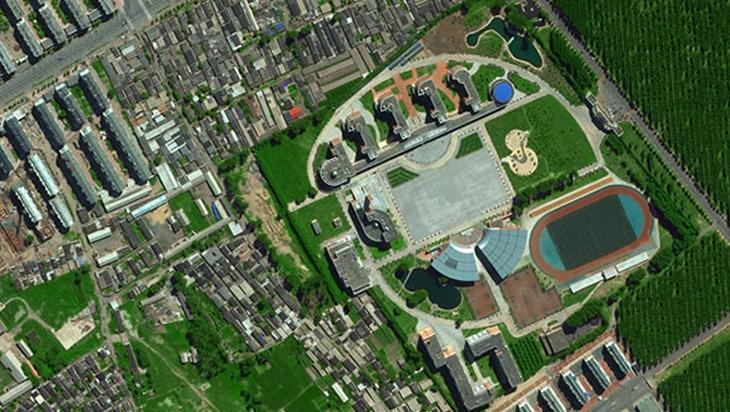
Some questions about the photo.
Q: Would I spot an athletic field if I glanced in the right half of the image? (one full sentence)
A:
Yes, there is an athletic field in the right half of the image.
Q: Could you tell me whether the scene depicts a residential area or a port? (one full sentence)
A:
The picture captures a residential area.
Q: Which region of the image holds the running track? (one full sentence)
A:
The running track sits in the right section of the image.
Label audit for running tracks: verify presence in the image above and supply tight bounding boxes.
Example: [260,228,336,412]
[525,182,668,288]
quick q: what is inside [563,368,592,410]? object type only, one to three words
building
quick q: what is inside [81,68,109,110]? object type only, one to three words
building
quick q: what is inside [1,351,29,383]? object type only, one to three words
shed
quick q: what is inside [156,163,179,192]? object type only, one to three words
shed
